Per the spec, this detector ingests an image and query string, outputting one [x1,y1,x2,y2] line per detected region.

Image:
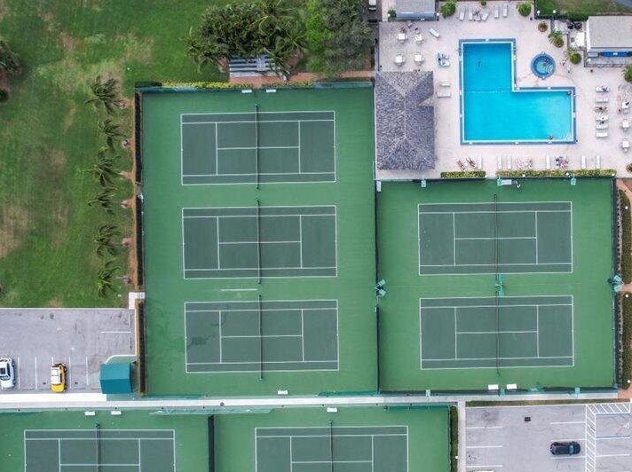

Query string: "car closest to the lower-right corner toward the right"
[549,441,580,455]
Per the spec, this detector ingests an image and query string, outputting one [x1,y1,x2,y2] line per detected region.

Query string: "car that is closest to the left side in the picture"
[0,358,18,388]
